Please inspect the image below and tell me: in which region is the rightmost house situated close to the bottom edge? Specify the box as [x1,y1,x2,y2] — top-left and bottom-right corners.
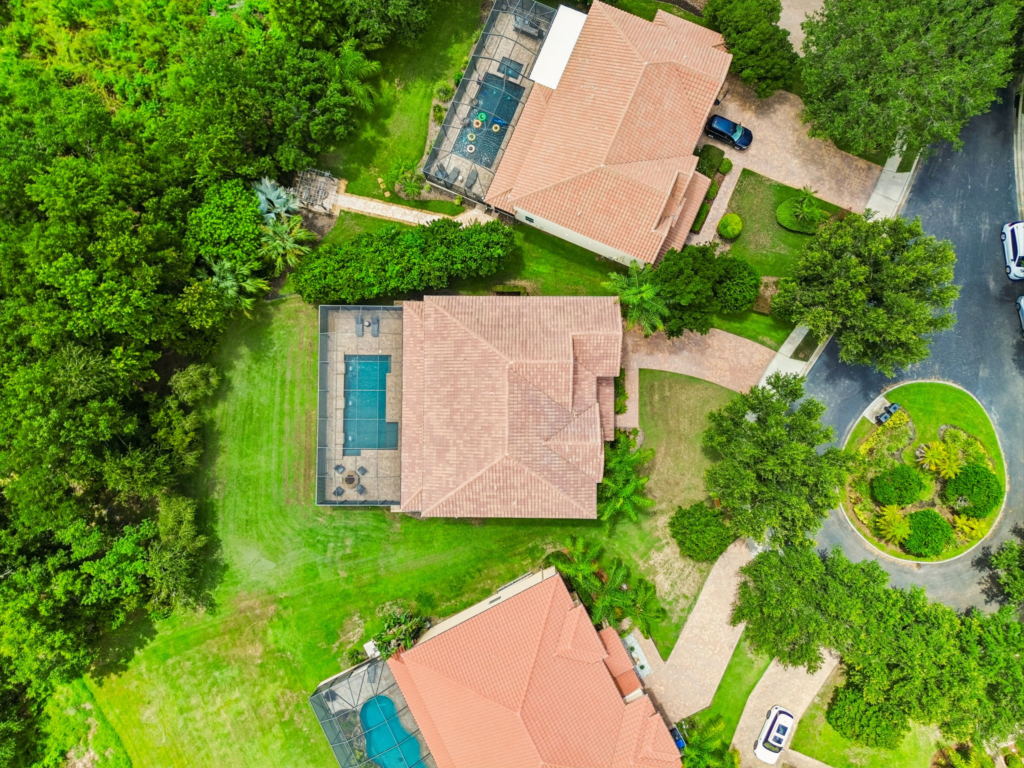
[386,568,684,768]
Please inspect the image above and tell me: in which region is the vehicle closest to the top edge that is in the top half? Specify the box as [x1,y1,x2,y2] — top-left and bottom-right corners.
[706,113,755,149]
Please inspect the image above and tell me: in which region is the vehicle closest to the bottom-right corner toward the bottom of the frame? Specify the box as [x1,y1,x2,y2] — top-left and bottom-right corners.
[751,701,788,757]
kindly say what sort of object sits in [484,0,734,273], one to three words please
house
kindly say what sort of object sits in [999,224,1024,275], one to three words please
car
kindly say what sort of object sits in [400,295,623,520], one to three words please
house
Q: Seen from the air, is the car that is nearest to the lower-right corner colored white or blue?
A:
white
